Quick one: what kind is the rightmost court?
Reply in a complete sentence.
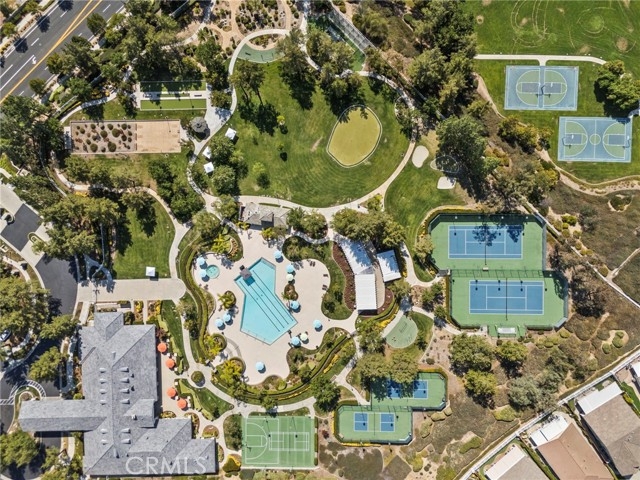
It looks like the rightmost court is a basketball court.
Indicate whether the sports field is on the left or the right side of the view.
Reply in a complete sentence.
It is on the right.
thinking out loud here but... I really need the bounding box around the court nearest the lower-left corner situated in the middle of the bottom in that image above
[241,416,314,468]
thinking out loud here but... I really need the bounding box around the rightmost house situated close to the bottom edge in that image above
[574,381,640,479]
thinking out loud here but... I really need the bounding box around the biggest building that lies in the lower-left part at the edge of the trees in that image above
[19,312,216,476]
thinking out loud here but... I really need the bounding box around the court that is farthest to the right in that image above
[556,116,635,164]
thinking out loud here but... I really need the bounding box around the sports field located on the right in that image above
[449,0,640,183]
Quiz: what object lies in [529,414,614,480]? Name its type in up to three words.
house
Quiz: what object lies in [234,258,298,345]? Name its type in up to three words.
swimming pool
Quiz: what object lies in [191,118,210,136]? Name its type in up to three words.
gazebo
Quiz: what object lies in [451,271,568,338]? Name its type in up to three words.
tennis court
